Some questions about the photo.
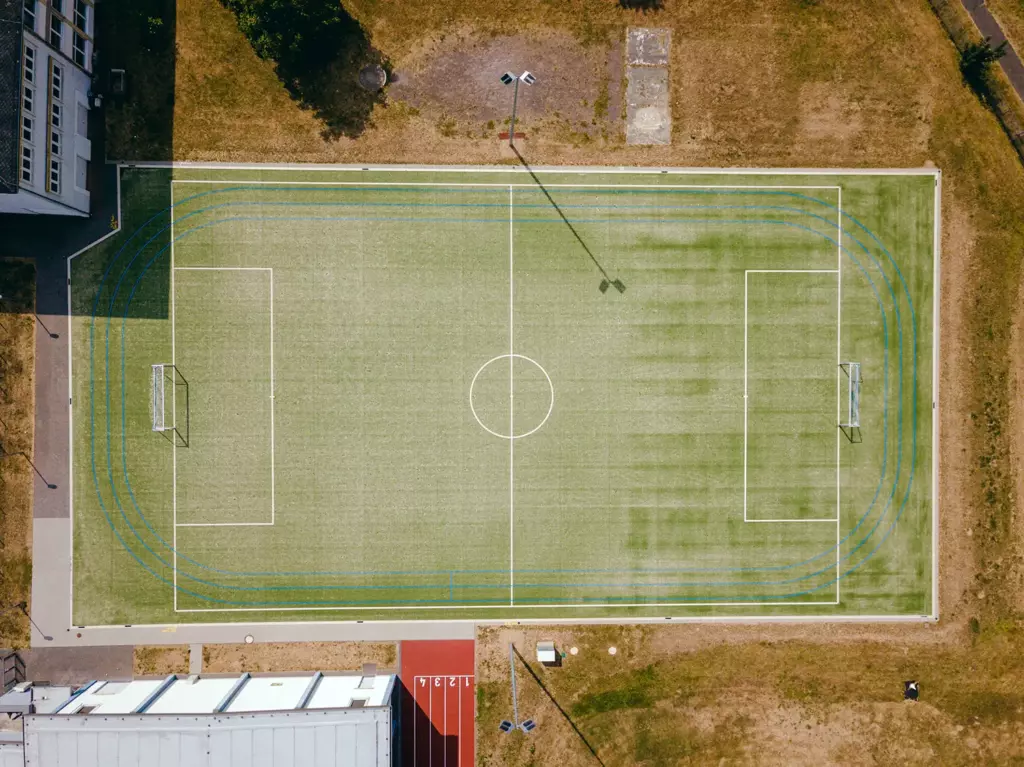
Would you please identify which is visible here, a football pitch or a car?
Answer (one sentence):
Visible in the photo is a football pitch.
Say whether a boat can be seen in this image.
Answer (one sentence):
No, I can't see a single boat in this photo.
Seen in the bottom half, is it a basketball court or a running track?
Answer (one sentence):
What appears in the bottom half is a running track.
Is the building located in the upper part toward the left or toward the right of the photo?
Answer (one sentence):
You can find the building located in the upper part on the left side of the picture.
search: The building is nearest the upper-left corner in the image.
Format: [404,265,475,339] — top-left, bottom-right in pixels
[0,0,95,218]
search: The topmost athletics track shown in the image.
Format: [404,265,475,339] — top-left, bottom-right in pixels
[90,187,916,605]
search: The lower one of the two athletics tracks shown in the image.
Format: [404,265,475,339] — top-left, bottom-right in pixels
[401,640,475,767]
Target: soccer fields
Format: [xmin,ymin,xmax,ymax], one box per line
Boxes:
[66,158,941,632]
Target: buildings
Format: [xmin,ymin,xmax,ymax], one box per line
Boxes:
[0,0,95,218]
[23,670,397,767]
